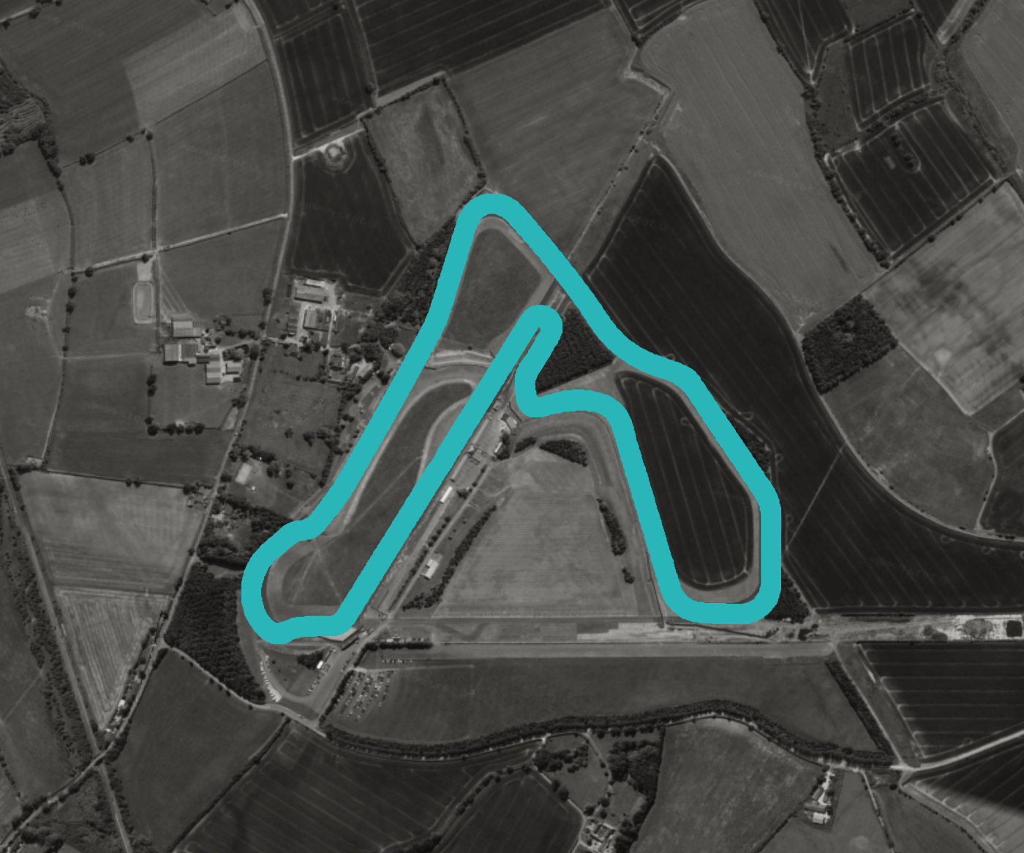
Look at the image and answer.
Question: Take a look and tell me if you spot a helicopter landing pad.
No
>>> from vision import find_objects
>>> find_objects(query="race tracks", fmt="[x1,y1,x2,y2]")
[241,193,781,644]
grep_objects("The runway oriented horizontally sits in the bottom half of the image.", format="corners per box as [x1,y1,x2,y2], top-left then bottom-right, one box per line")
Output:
[376,644,834,660]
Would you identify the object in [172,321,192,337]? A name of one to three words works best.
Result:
barn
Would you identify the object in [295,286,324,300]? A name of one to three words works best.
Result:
barn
